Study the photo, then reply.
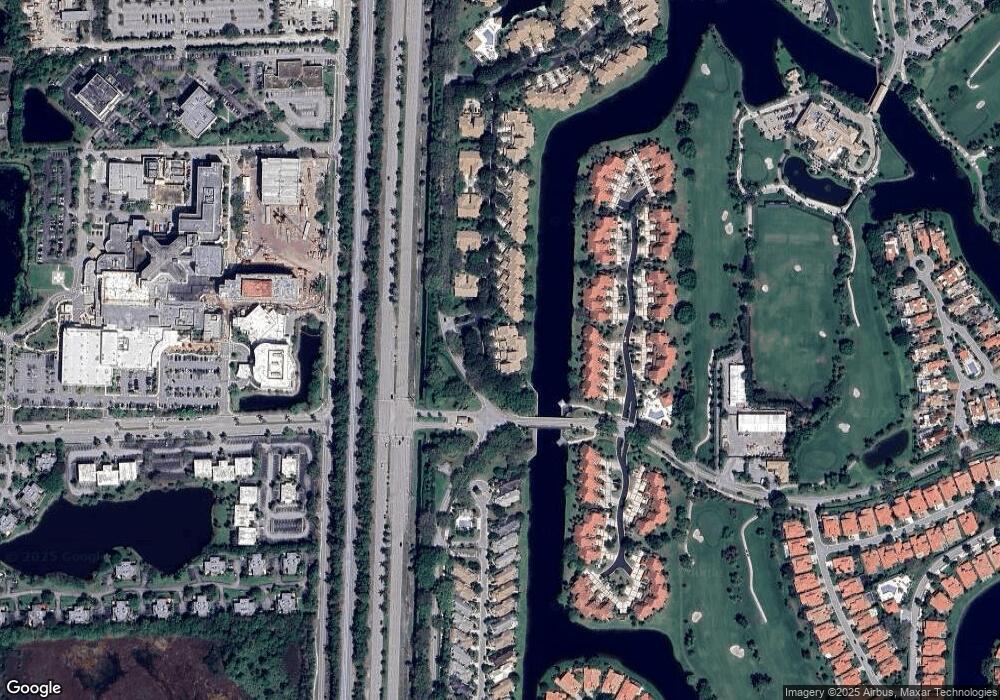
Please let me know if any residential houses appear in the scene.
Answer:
Yes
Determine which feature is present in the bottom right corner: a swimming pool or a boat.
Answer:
swimming pool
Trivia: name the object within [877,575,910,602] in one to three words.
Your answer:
swimming pool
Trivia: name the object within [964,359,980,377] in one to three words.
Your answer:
swimming pool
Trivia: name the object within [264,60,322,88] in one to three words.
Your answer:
building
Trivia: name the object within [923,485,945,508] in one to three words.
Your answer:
house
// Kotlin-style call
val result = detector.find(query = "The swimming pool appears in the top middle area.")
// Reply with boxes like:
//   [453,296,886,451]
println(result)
[466,18,502,62]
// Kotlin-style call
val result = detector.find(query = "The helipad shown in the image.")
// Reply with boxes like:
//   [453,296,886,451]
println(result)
[52,270,64,283]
